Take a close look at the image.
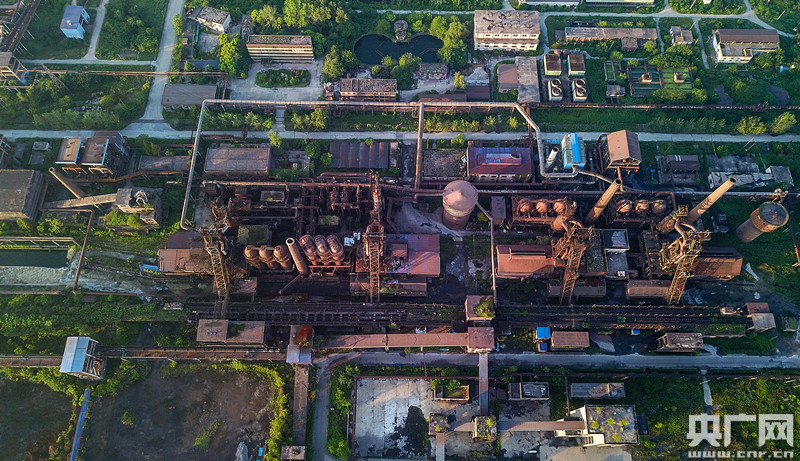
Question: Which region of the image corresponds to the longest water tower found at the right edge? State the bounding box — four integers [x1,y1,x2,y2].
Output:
[730,199,791,247]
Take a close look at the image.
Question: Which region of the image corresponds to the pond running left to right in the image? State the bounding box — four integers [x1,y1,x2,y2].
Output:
[353,34,445,65]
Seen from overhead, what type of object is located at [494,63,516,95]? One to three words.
house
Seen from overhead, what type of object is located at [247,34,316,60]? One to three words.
building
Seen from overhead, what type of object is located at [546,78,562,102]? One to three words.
cooling tower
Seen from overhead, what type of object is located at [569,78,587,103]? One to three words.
cooling tower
